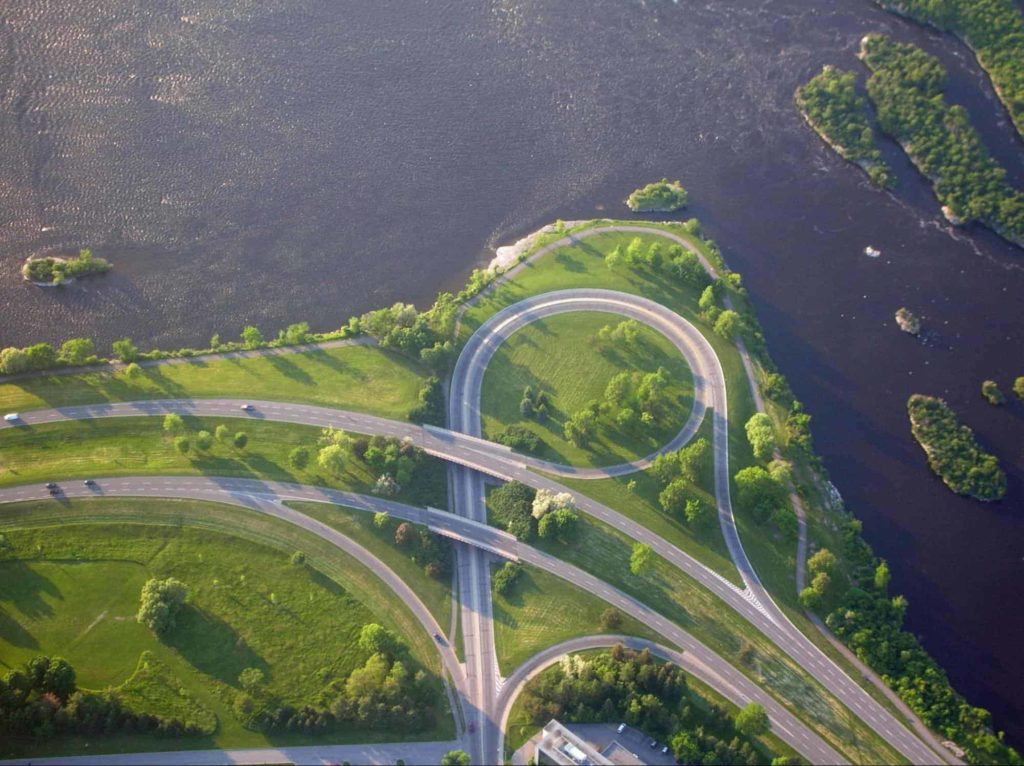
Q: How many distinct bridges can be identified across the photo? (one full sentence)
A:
My tally gives 2 bridges in this view.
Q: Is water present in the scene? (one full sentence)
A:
Yes, water shows up in the scene.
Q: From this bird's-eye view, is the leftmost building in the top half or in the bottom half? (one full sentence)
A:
You can find the leftmost building in the bottom half.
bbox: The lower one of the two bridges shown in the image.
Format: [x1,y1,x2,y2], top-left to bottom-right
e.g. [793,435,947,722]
[426,504,519,562]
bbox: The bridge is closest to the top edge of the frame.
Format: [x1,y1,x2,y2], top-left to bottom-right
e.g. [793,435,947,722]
[422,422,514,480]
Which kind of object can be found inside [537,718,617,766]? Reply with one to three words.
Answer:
building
